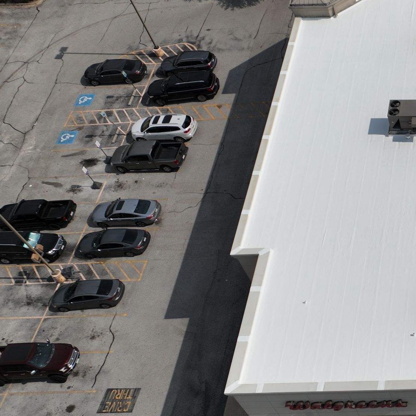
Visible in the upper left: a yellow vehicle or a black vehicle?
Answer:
black vehicle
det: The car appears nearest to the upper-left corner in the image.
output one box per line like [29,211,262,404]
[79,59,144,85]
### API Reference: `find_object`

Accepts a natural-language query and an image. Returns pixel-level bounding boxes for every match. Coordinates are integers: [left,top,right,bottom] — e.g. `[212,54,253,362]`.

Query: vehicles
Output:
[0,194,83,229]
[131,111,200,140]
[46,276,126,310]
[75,225,150,258]
[107,138,193,173]
[0,342,84,384]
[79,59,144,85]
[159,51,219,78]
[147,71,218,104]
[87,196,160,226]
